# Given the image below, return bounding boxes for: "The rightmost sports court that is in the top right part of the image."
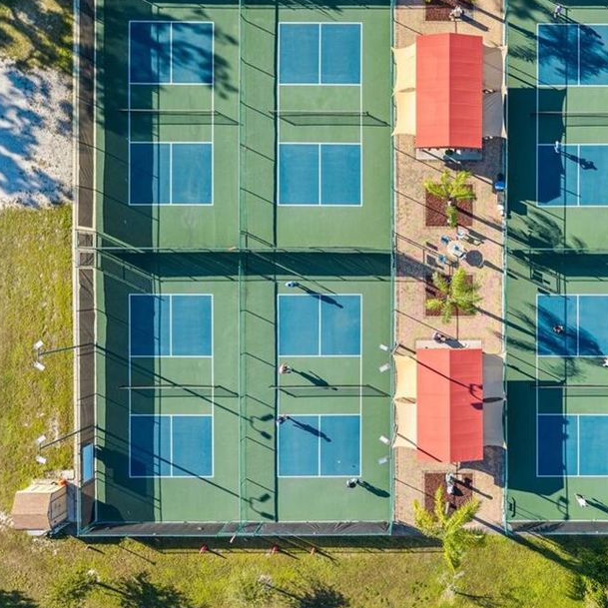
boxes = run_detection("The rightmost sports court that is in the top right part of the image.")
[537,22,608,205]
